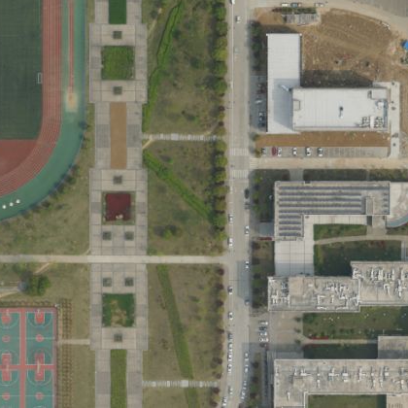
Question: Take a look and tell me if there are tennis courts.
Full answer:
No, the scene contains no tennis court.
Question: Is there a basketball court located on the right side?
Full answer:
No, the scene shows no basketball court on the right side.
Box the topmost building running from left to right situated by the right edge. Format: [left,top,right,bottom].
[293,87,390,130]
